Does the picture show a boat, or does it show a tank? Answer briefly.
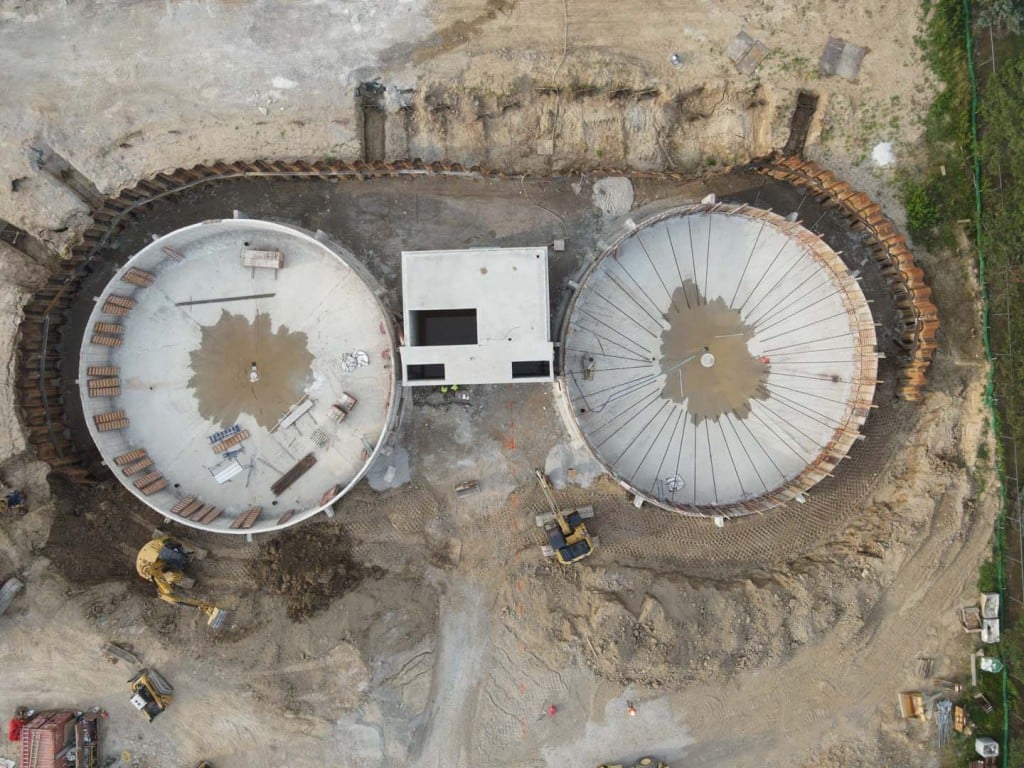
tank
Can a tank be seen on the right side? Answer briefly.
Yes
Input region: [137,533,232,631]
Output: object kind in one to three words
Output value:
work vehicle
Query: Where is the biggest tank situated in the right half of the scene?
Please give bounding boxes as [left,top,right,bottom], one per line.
[553,197,883,524]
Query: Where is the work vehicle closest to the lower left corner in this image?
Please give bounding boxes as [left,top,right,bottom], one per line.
[125,663,176,721]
